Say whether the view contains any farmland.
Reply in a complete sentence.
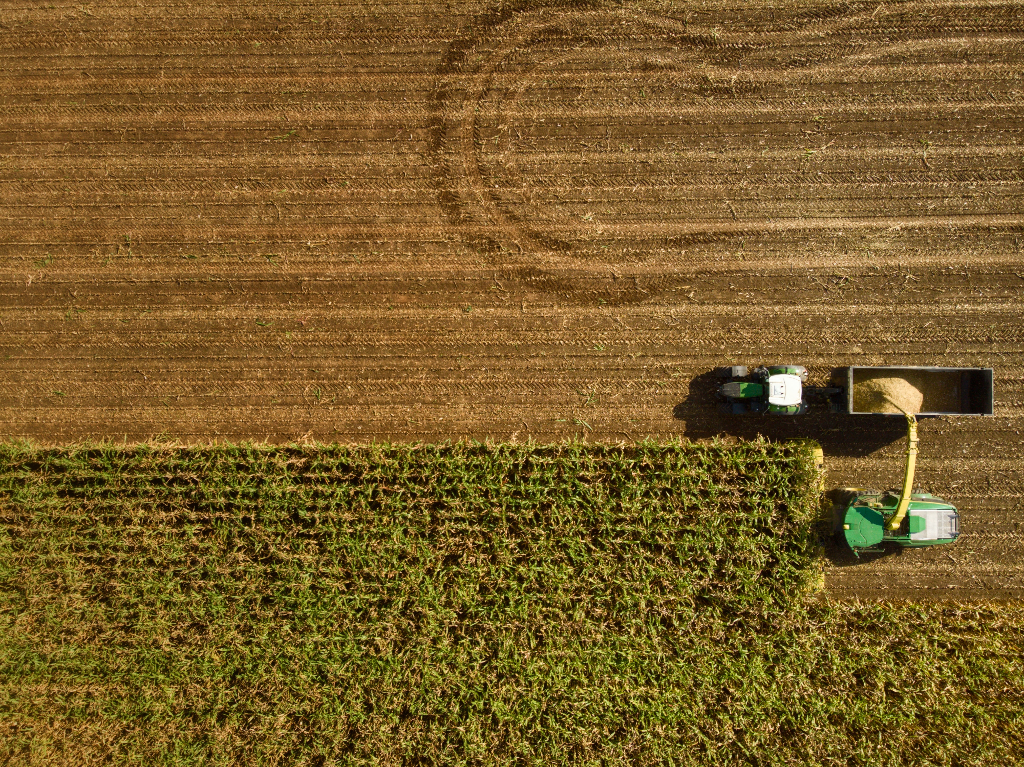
Yes, there's farmland in this view.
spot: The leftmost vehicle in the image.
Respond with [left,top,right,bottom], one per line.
[705,365,807,416]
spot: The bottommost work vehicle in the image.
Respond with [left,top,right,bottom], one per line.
[777,412,960,598]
